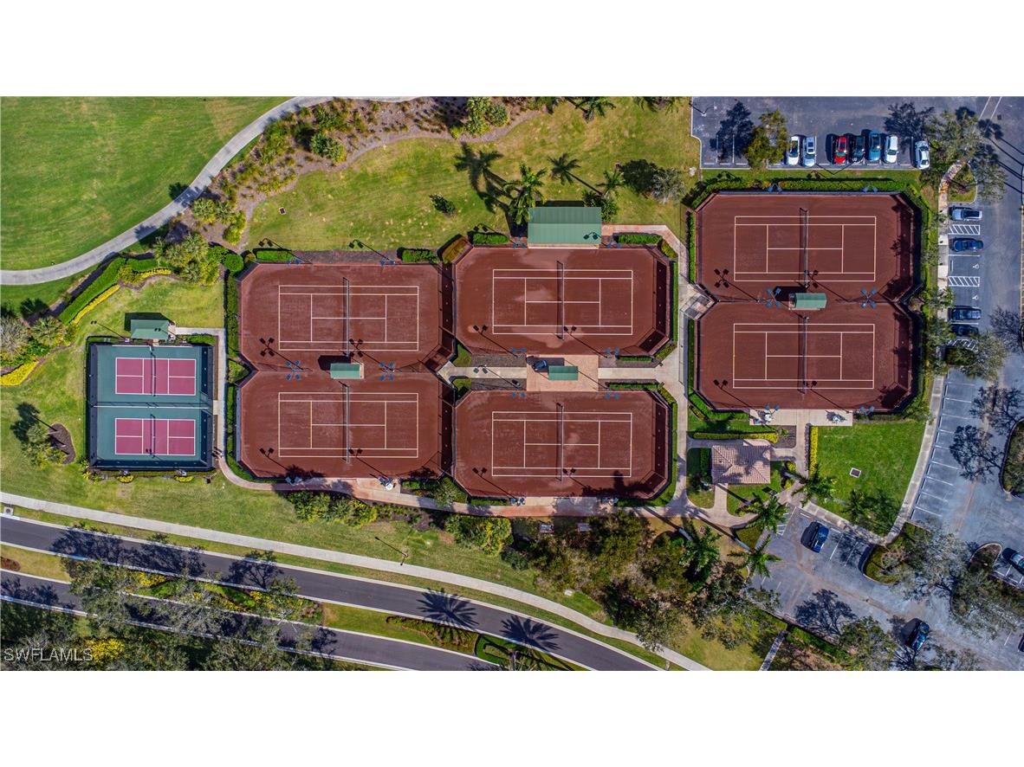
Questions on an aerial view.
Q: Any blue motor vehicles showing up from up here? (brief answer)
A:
Yes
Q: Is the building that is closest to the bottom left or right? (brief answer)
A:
right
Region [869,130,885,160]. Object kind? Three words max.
car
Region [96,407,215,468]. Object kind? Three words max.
sports court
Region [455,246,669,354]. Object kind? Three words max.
tennis court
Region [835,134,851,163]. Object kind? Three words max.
car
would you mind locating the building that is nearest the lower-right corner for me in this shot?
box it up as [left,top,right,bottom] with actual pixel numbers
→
[711,445,771,484]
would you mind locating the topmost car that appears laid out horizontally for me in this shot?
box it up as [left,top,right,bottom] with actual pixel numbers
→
[954,205,986,220]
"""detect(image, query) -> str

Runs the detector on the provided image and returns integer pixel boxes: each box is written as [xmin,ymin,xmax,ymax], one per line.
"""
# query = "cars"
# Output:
[911,623,932,652]
[954,205,986,220]
[955,237,986,251]
[869,130,885,160]
[809,524,830,553]
[885,133,901,162]
[835,134,851,163]
[788,135,802,163]
[804,136,819,165]
[917,140,933,168]
[952,323,982,336]
[954,306,985,320]
[853,133,868,162]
